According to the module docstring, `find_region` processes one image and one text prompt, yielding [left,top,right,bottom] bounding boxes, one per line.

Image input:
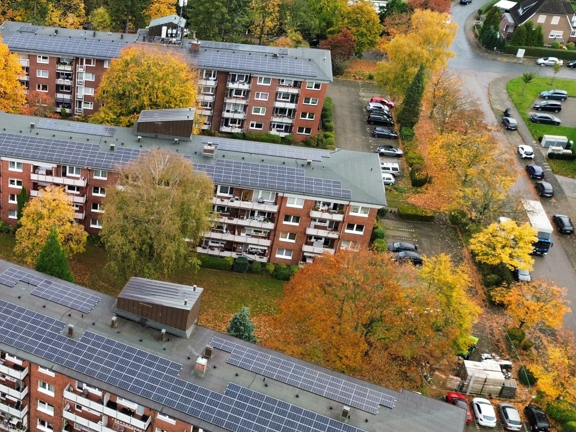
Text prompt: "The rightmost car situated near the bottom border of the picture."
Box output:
[520,406,553,432]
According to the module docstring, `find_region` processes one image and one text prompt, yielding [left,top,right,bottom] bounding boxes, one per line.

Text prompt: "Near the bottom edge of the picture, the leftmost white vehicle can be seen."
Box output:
[469,399,500,431]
